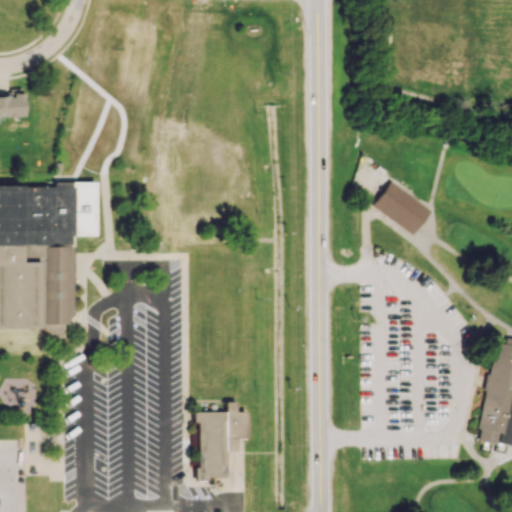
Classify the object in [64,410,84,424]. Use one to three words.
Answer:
vehicle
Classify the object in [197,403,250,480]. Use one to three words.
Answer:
building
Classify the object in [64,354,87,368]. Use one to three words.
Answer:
vehicle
